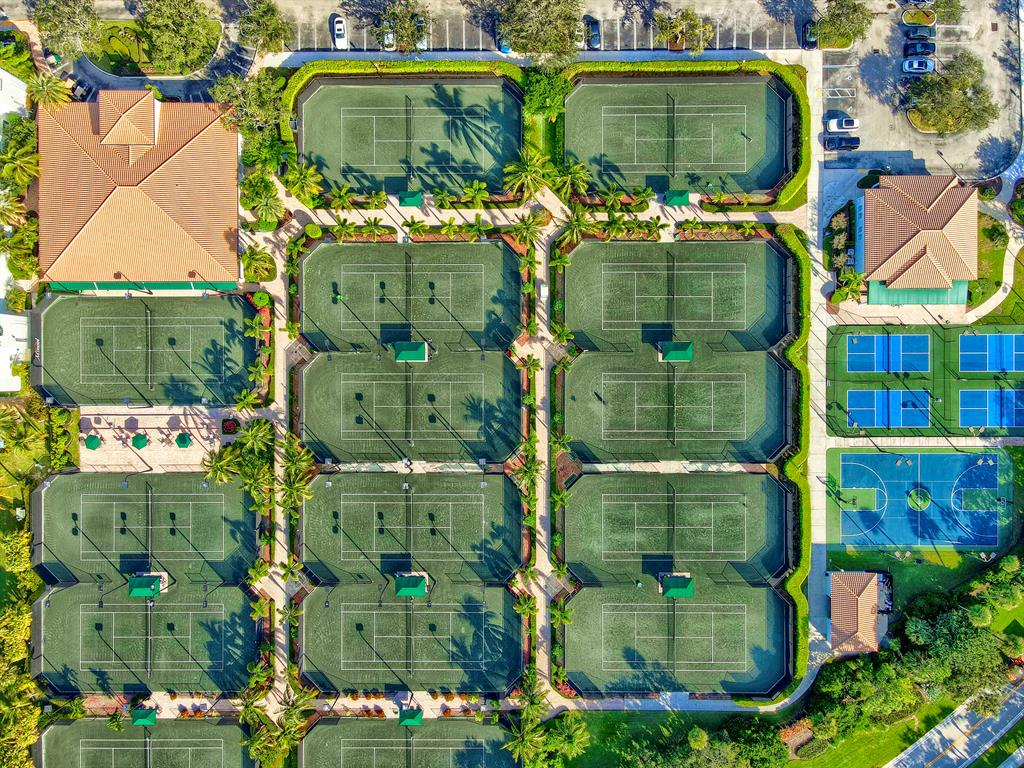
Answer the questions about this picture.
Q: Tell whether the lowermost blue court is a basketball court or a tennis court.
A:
basketball court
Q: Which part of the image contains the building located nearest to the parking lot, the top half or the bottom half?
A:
top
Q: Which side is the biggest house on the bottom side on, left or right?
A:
right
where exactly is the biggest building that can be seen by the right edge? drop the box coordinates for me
[852,175,978,305]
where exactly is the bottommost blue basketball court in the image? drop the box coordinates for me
[826,448,1013,552]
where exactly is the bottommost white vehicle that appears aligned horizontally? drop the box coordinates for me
[828,116,859,131]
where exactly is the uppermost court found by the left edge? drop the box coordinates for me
[42,295,254,405]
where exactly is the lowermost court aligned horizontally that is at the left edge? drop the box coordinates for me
[42,717,254,768]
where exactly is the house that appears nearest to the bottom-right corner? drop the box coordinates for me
[827,572,878,650]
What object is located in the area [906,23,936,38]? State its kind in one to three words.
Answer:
car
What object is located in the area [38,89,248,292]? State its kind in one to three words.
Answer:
building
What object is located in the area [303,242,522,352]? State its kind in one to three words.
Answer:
tennis court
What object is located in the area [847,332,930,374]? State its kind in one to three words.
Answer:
sports court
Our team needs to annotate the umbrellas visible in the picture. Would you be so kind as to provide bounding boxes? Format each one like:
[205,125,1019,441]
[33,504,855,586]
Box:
[131,434,148,449]
[175,433,192,448]
[84,434,102,449]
